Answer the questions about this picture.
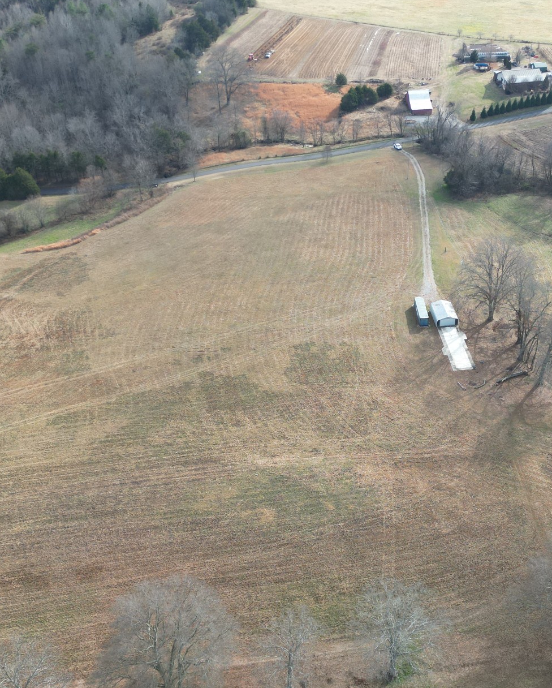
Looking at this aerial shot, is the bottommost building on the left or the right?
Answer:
right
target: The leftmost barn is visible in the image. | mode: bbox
[404,89,433,115]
